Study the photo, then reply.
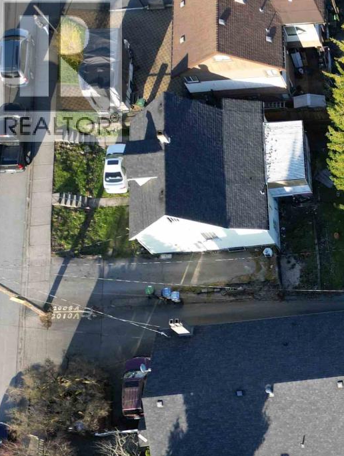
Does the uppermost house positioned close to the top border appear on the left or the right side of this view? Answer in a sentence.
The uppermost house positioned close to the top border appears in the right half of the scene.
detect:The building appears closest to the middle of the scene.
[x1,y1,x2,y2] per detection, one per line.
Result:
[122,86,314,259]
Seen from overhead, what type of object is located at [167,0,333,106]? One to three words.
house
